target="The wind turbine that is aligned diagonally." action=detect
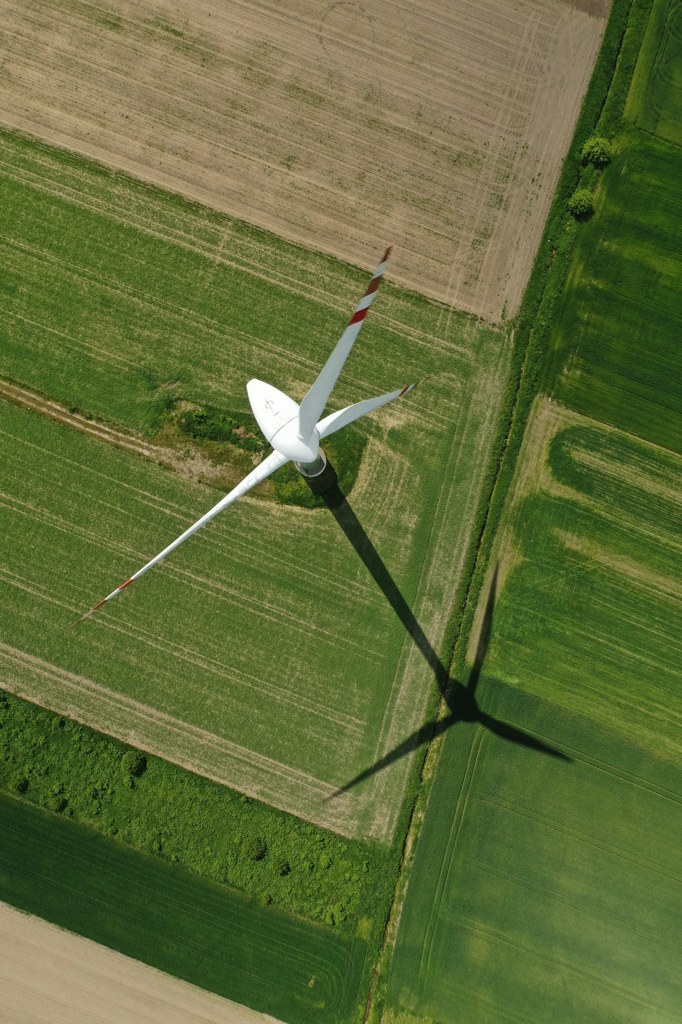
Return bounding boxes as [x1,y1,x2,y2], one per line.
[70,244,431,628]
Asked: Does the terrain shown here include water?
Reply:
No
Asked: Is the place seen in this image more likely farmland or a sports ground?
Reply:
farmland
